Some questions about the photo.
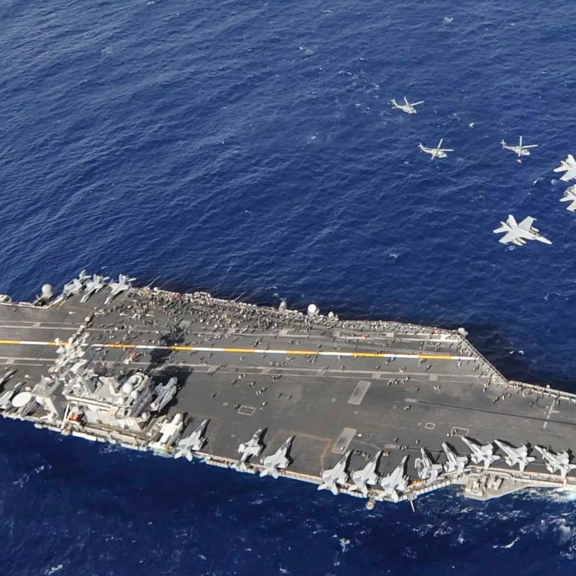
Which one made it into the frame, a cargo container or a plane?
plane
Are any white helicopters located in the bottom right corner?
No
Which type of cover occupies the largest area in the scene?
water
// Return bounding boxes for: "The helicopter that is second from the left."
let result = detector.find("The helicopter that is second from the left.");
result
[421,136,456,161]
